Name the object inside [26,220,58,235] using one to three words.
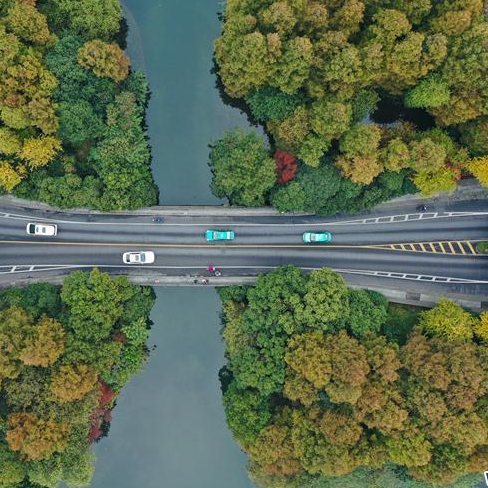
vehicle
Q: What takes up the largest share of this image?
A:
trees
